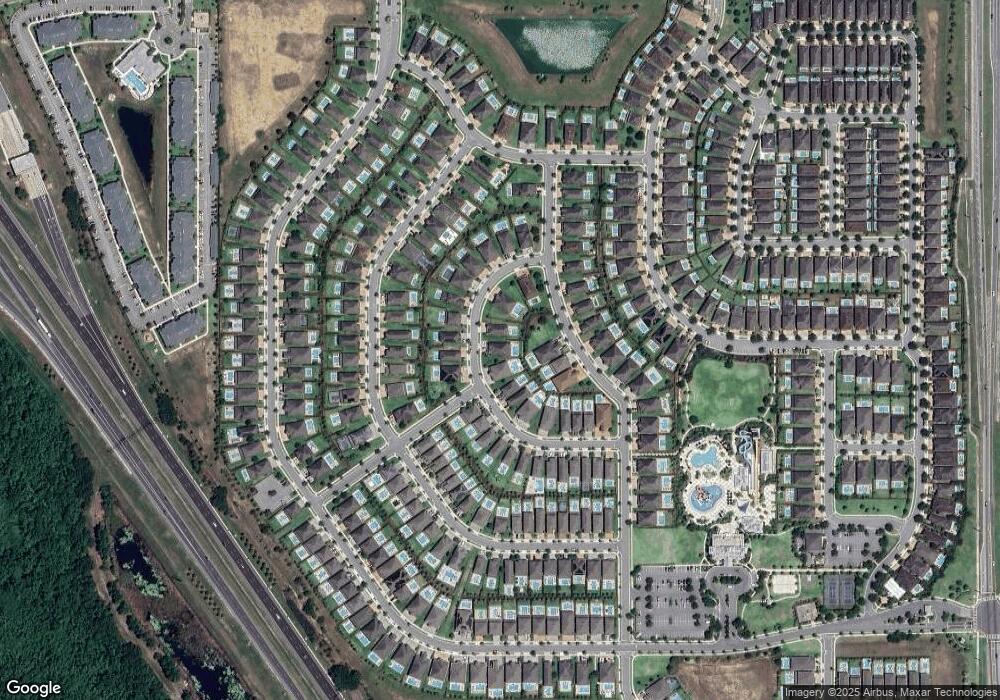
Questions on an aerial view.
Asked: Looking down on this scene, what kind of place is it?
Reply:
residential area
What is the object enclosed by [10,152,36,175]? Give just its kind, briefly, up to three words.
toll station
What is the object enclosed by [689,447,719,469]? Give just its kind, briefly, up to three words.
swimming pool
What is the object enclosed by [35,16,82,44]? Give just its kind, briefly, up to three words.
building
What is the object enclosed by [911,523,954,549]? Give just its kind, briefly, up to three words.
house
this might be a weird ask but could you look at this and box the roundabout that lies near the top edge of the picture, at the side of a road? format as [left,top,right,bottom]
[152,24,184,56]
